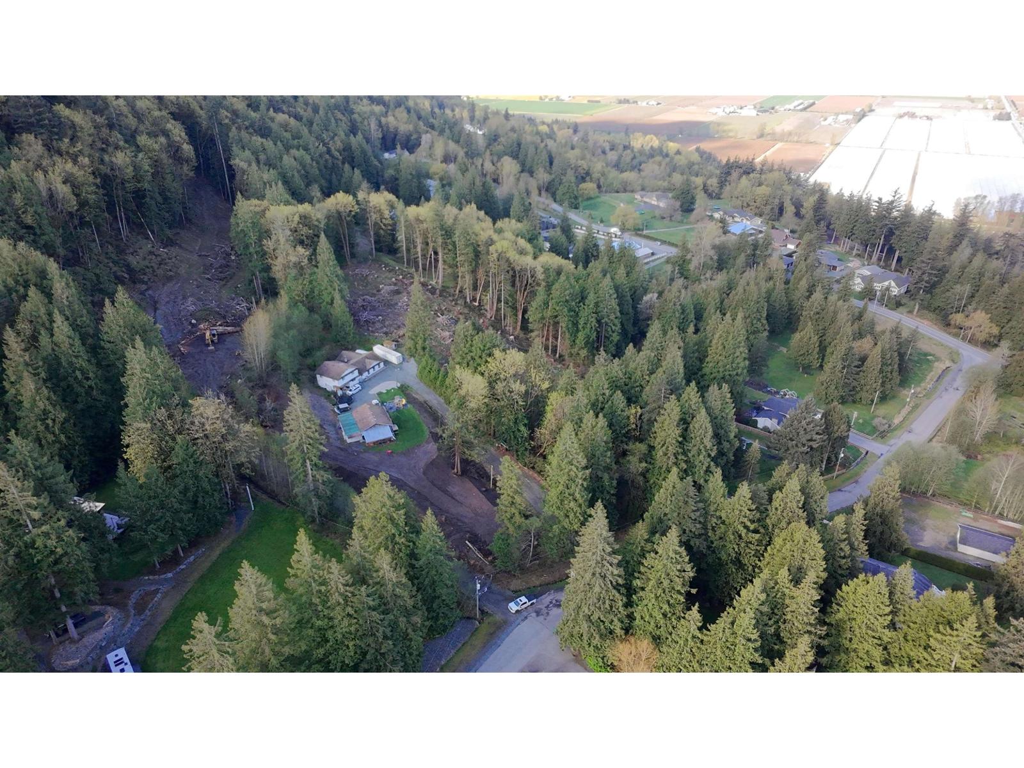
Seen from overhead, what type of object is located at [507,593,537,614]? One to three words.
truck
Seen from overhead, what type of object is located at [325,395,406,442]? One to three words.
house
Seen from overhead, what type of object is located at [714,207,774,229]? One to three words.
house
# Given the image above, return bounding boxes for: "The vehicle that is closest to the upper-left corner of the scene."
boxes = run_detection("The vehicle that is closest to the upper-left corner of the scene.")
[204,333,220,354]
